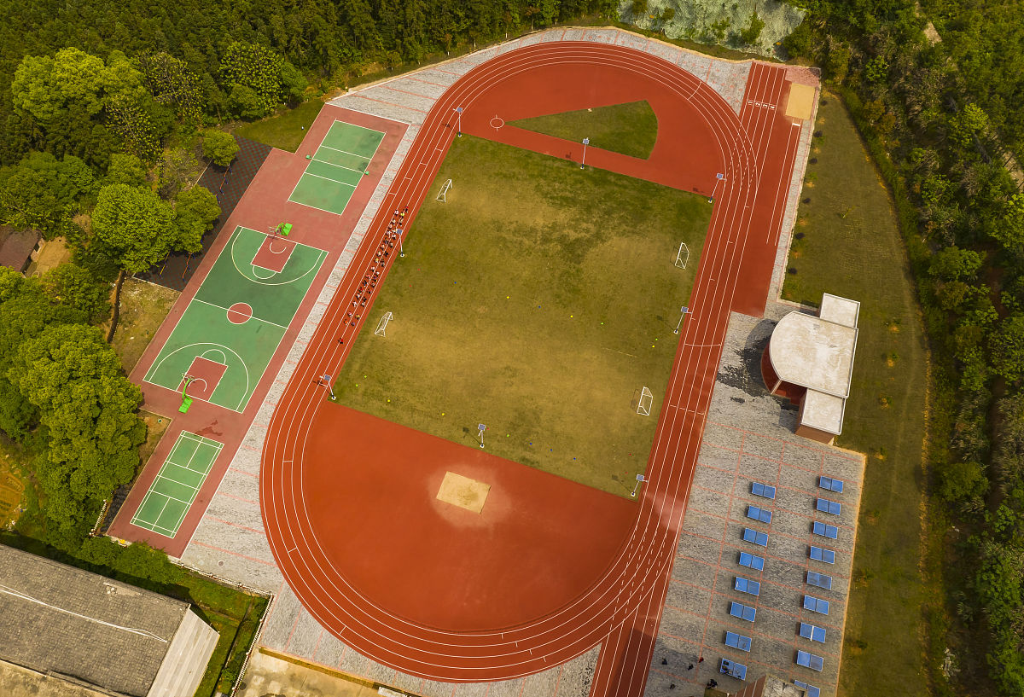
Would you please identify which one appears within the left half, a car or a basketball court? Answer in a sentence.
The feature located within the left half is a basketball court.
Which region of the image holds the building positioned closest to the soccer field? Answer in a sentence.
The building positioned closest to the soccer field is located in the right region of the scene.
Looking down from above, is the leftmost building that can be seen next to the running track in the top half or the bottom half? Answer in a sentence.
Seen from above, the leftmost building that can be seen next to the running track lies in the bottom half of the view.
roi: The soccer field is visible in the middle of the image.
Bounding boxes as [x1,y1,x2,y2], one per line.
[333,136,714,500]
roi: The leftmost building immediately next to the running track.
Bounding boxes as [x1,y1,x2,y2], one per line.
[0,536,221,697]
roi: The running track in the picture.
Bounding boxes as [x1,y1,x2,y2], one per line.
[259,40,805,697]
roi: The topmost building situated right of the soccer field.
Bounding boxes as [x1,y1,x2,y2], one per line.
[760,292,861,445]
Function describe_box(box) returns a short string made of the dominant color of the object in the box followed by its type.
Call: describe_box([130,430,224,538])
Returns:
green sports court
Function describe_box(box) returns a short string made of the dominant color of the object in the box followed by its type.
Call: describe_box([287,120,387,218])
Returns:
green sports court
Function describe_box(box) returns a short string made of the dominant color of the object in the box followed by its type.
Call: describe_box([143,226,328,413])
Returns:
green basketball court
